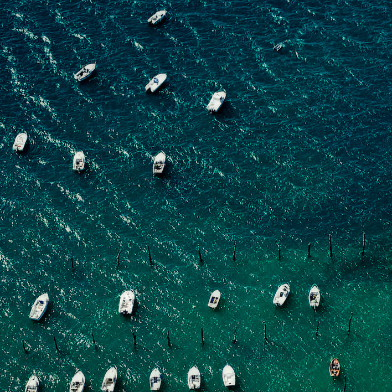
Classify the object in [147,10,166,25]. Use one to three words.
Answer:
boat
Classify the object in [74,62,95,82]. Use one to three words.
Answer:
boat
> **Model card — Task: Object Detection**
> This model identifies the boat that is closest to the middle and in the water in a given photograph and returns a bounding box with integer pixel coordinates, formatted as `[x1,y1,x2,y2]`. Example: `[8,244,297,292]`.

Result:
[152,151,167,176]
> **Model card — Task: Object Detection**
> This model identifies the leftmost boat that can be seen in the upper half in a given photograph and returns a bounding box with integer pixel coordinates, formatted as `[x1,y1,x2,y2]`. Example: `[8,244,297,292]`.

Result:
[12,132,29,153]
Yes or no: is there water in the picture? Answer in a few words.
Yes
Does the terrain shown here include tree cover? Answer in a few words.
No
